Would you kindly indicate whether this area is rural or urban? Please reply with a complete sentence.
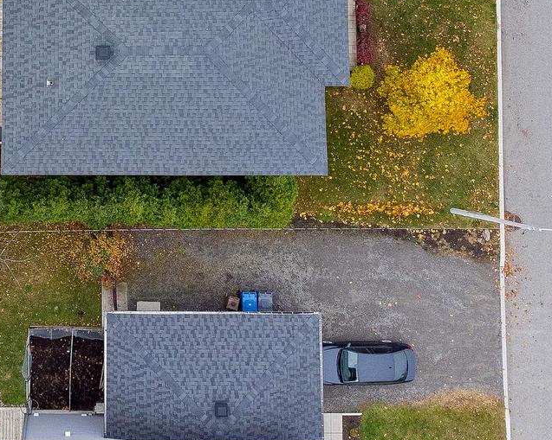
The area is urban.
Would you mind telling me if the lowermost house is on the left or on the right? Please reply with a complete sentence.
It is on the left.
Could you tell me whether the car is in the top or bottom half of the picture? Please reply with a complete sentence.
The car sits in the bottom half of the picture.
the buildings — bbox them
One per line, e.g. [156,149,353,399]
[0,0,352,176]
[24,307,324,440]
